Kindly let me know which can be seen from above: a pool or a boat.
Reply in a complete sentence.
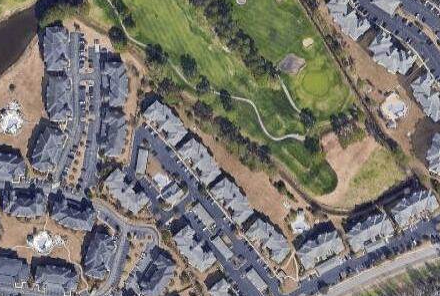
This aerial view contains a pool.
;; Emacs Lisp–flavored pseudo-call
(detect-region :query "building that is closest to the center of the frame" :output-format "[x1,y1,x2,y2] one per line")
[178,136,225,188]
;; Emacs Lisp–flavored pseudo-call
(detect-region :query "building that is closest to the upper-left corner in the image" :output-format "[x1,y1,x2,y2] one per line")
[43,26,70,72]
